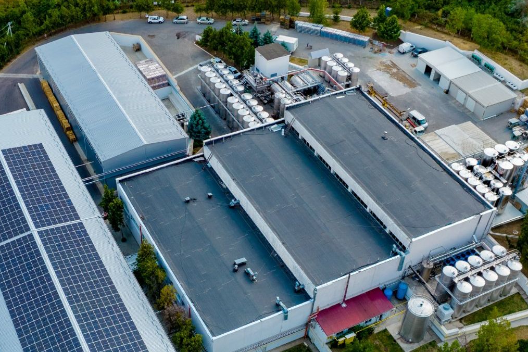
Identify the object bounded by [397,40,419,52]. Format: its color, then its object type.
white vehicle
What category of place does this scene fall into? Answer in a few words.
industrial area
